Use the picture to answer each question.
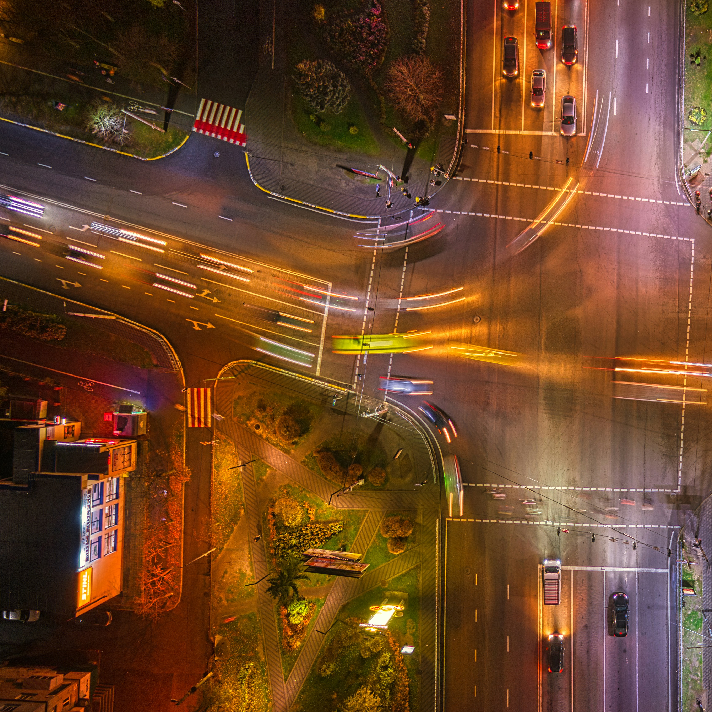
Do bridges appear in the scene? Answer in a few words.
No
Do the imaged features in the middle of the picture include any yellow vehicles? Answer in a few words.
Yes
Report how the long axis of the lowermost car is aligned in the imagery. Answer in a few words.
up and down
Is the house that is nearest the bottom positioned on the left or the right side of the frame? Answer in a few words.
left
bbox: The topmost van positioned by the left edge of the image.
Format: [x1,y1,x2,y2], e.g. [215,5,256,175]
[0,192,51,221]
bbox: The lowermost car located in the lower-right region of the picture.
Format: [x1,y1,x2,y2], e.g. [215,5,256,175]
[546,631,566,673]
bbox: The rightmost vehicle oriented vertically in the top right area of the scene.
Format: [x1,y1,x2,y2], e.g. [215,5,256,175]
[586,106,610,153]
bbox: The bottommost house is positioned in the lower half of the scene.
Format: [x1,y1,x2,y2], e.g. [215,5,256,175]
[0,663,85,712]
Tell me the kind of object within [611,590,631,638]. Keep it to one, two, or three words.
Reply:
car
